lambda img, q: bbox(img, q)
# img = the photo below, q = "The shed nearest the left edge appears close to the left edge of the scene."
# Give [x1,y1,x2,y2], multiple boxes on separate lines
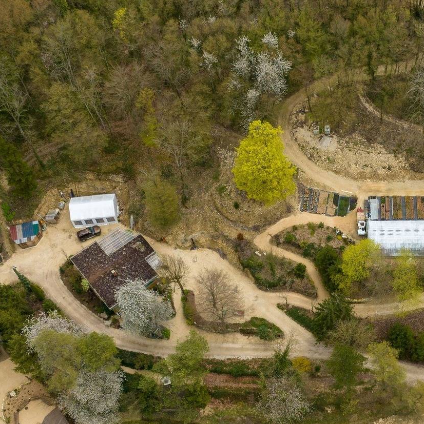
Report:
[9,221,43,250]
